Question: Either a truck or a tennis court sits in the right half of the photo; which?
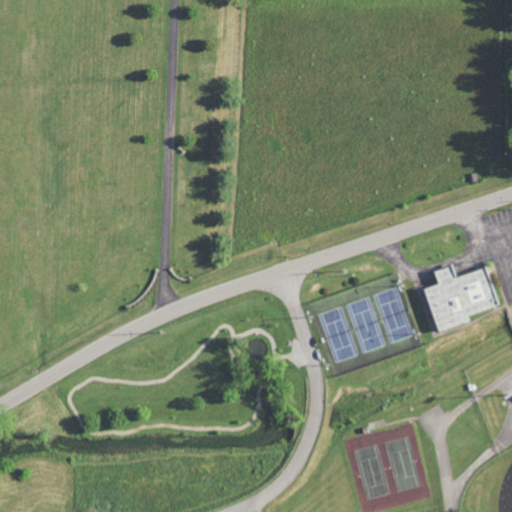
tennis court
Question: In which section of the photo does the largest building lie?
right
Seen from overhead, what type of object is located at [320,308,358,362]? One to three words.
tennis court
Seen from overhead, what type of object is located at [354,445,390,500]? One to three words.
tennis court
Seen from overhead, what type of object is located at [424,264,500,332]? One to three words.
building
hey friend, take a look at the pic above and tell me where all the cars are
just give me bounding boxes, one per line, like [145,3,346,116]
[312,336,318,347]
[316,348,322,358]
